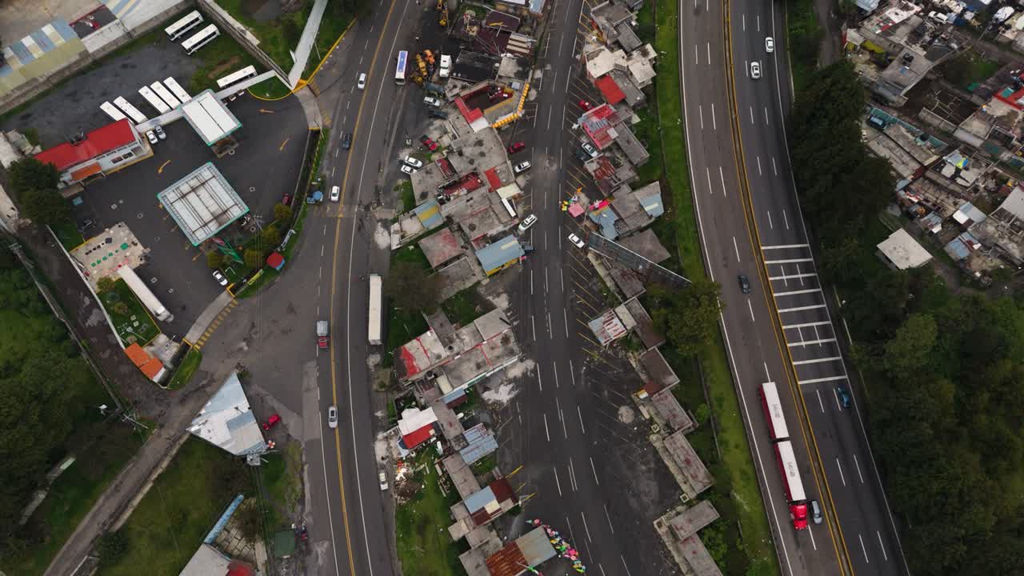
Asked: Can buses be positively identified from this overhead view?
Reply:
Yes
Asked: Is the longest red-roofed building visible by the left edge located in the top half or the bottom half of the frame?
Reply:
top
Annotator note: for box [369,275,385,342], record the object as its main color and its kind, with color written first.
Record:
white trailer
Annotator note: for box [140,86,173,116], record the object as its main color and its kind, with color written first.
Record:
white bus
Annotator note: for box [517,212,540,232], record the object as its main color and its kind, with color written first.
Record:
white car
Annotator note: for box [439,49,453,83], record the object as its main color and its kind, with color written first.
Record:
white vehicle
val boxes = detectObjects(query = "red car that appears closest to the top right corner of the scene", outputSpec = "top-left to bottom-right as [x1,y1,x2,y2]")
[577,99,595,113]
